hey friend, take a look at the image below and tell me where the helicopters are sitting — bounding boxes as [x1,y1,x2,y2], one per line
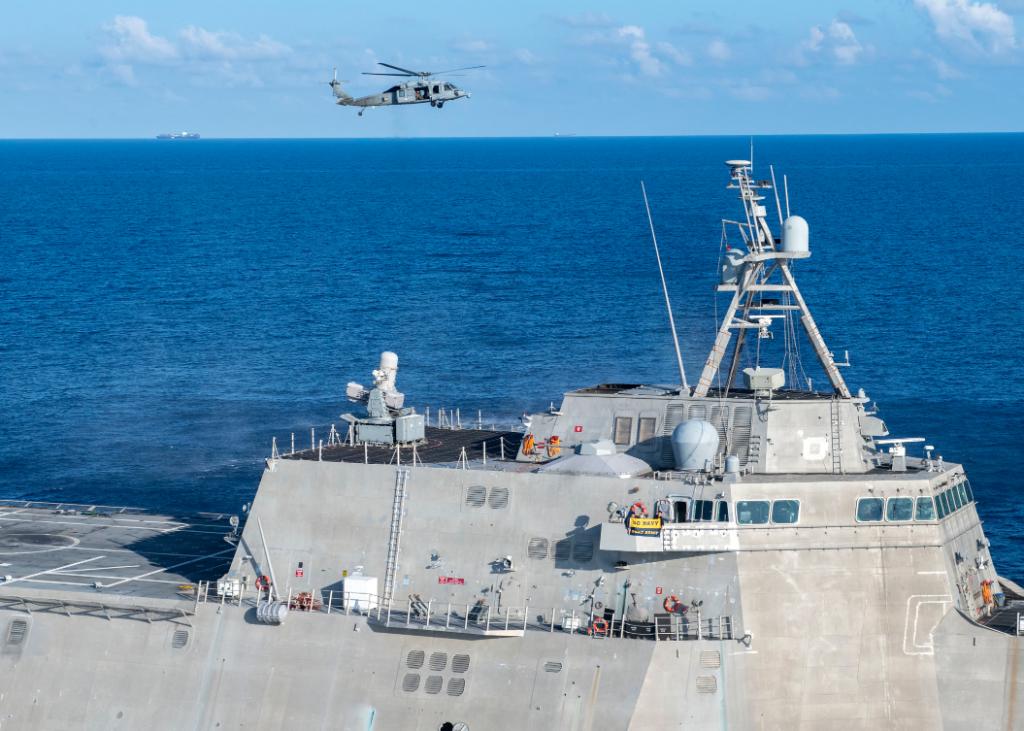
[318,65,487,117]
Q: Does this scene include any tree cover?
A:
No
